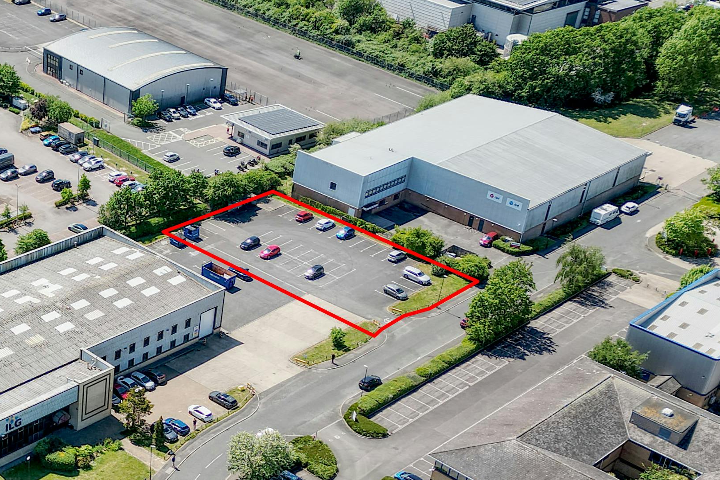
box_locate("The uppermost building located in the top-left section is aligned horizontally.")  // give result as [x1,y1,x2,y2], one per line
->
[42,26,229,116]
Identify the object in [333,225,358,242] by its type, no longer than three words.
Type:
car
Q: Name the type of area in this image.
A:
industrial area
